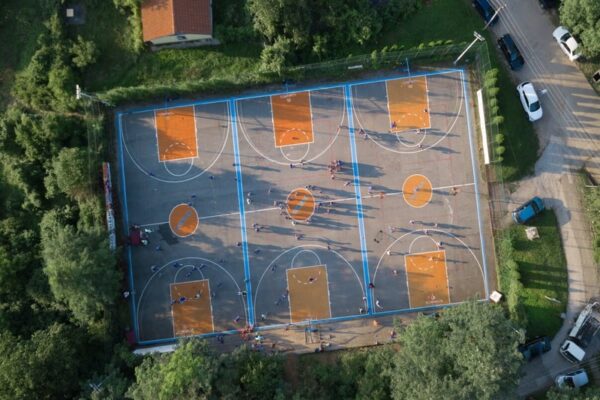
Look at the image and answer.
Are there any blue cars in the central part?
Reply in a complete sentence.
No, there is no blue car in the central part.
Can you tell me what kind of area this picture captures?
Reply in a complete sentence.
This looks like a sports ground.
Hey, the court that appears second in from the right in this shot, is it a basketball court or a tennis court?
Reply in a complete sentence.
The court that appears second in from the right is a basketball court.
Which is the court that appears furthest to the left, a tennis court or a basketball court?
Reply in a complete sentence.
I'd identify the court that appears furthest to the left as a basketball court.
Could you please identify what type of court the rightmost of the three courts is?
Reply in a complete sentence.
In the photo, the rightmost of the three courts shows up as a basketball court.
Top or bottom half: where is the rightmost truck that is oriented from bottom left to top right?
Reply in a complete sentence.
It is in the bottom half that the rightmost truck that is oriented from bottom left to top right appears.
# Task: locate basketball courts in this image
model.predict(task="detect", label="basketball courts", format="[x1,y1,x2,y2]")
[117,96,257,344]
[351,68,488,313]
[236,82,373,328]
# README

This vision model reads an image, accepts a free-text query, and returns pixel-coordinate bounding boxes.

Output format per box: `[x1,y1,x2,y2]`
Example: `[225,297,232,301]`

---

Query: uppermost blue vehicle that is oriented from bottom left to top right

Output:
[509,196,544,224]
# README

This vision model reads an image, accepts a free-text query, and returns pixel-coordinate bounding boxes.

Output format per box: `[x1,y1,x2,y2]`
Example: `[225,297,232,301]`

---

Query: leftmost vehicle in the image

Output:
[468,0,498,29]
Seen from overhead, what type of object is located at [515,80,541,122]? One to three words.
car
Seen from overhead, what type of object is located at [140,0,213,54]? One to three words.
house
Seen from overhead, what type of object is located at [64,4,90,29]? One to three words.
shed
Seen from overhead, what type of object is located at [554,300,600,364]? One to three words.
truck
